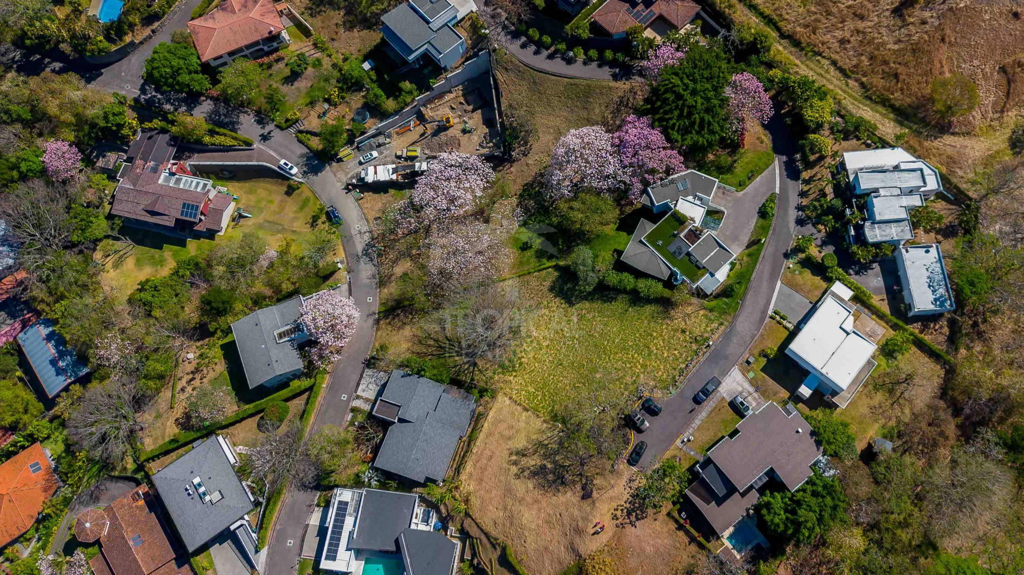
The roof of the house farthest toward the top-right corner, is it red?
No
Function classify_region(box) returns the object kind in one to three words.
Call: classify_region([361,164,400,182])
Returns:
shed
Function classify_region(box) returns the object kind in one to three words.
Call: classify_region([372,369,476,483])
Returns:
house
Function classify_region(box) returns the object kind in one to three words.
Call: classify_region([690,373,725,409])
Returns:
truck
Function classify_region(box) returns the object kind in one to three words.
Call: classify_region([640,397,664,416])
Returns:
car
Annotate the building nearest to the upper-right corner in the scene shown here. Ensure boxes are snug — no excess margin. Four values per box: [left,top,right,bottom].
[839,147,942,243]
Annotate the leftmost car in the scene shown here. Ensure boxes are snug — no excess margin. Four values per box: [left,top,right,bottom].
[276,159,300,175]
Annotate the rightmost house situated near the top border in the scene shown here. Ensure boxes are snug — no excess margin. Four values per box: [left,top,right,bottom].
[591,0,701,44]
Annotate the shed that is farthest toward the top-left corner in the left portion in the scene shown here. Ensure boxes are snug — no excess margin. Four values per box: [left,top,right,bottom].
[95,153,122,169]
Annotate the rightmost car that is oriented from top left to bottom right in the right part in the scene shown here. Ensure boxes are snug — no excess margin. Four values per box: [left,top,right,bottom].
[732,392,754,416]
